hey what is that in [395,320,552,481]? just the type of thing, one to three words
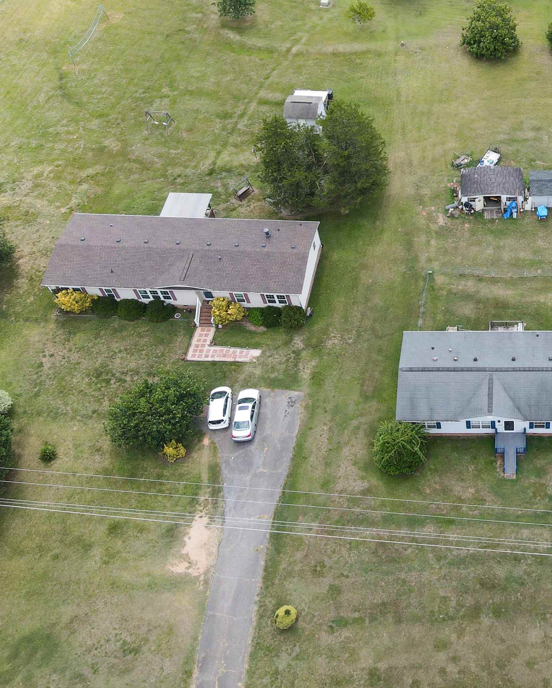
house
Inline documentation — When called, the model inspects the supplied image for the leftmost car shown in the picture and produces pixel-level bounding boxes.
[202,385,233,435]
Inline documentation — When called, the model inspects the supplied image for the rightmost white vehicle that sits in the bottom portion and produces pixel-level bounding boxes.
[231,390,261,443]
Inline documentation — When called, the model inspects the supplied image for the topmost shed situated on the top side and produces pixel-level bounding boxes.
[282,82,333,132]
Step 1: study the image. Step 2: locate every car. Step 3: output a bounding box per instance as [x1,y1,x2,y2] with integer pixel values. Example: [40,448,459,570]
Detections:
[202,385,233,435]
[231,390,261,443]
